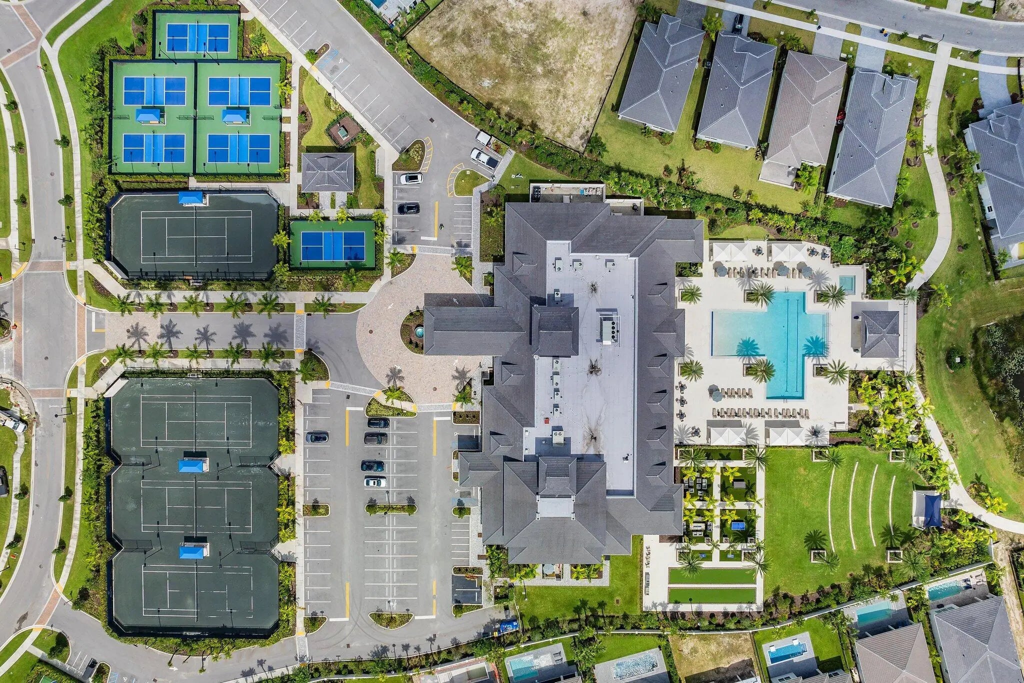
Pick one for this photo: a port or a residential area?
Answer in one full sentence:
What you see here is a residential area.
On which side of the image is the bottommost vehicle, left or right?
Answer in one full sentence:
The bottommost vehicle is on the left side of the image.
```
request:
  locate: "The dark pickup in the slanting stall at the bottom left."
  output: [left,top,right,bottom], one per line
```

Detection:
[81,655,101,681]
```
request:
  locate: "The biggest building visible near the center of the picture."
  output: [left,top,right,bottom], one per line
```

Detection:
[423,202,704,564]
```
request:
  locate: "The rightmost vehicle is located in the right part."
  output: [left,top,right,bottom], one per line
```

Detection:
[733,13,746,36]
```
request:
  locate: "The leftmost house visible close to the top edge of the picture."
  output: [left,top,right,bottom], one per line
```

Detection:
[618,13,705,133]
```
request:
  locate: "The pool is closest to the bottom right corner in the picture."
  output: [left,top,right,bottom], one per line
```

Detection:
[926,578,962,601]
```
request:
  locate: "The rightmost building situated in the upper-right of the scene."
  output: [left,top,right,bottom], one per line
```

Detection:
[962,101,1024,238]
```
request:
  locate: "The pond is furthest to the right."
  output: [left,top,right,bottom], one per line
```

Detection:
[981,322,1024,463]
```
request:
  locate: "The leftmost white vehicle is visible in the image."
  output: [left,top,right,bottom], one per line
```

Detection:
[1,414,30,432]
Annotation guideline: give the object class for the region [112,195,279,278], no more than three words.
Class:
tennis court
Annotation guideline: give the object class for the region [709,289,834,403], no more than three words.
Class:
swimming pool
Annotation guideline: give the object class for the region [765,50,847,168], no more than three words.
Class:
house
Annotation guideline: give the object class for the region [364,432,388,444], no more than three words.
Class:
vehicle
